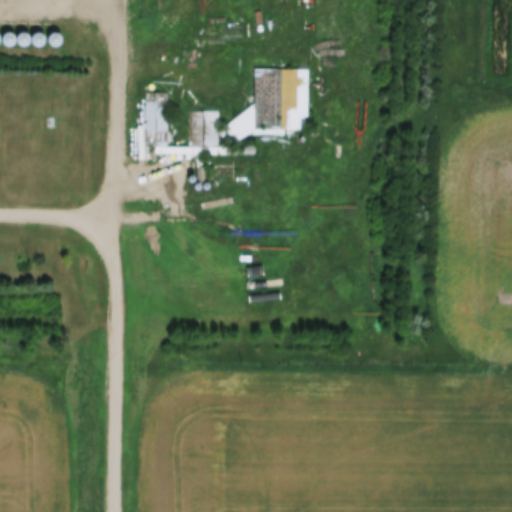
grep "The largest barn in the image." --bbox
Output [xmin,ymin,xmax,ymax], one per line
[227,68,310,140]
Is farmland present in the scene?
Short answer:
Yes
